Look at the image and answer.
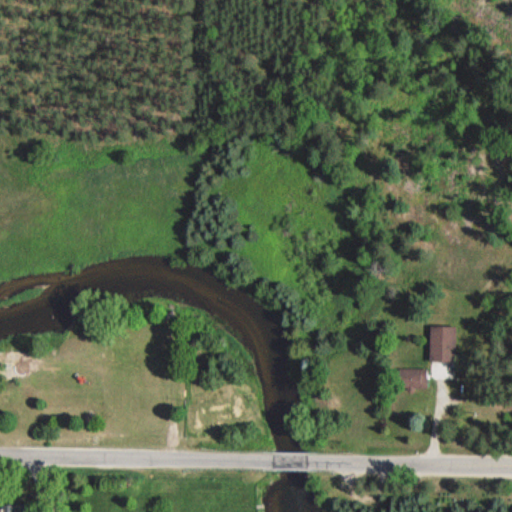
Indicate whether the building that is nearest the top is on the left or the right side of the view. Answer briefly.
right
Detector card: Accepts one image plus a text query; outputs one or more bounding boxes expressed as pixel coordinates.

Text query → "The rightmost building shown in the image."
[430,325,457,362]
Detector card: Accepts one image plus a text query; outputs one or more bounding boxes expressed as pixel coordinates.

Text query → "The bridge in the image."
[272,451,312,472]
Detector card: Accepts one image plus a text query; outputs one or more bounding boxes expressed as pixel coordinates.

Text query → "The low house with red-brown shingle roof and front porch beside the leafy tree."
[402,368,426,394]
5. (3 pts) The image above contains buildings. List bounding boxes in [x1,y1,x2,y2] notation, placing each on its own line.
[402,368,426,394]
[430,325,457,362]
